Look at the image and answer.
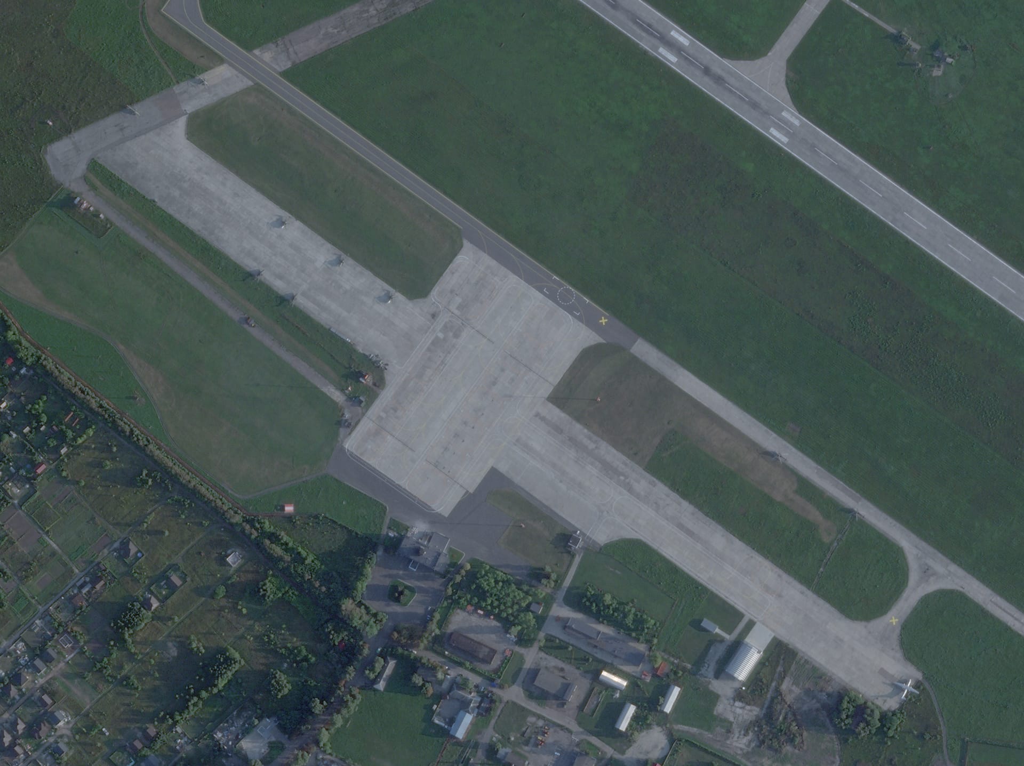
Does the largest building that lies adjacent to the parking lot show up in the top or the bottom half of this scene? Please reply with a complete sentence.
You can find the largest building that lies adjacent to the parking lot in the bottom half.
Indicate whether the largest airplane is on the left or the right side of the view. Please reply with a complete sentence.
The largest airplane sits on the right side.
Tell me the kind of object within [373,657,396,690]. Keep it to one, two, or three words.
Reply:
house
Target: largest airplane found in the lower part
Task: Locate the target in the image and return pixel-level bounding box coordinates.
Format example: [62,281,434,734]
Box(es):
[895,679,920,700]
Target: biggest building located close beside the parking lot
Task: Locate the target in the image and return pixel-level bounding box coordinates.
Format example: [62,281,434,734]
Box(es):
[398,529,450,572]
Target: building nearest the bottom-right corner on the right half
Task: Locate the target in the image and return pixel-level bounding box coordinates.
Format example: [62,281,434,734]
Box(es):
[726,640,762,682]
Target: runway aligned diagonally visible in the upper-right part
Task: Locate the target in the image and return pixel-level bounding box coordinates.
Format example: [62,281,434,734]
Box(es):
[580,0,1024,321]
